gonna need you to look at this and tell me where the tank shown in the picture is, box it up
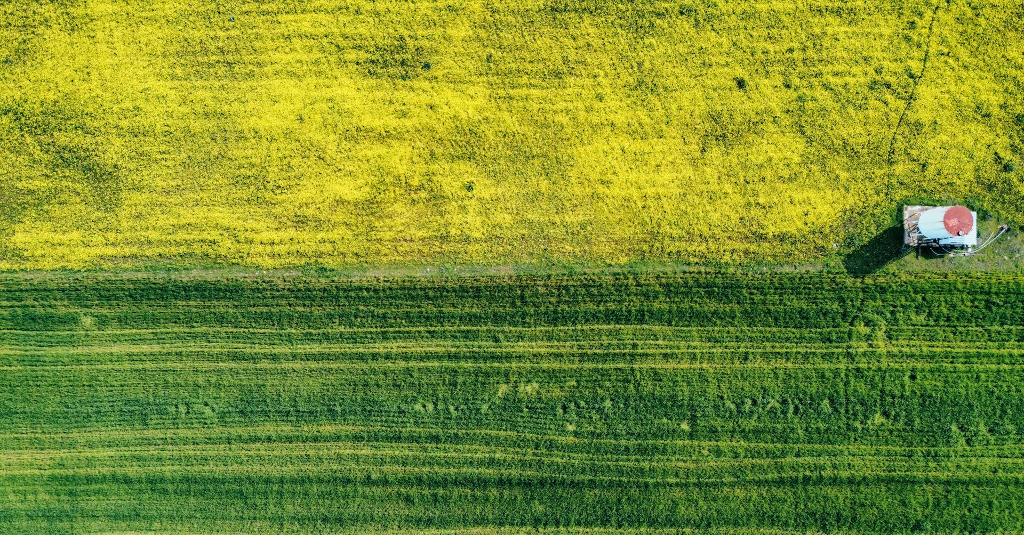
[905,205,973,243]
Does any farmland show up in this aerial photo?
Yes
